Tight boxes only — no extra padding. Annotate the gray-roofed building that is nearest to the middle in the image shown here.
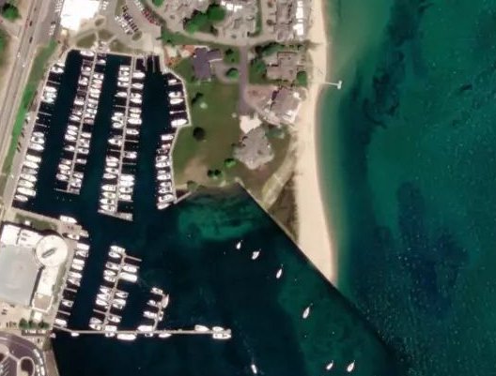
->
[234,125,273,168]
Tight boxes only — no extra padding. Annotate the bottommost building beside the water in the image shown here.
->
[0,223,67,310]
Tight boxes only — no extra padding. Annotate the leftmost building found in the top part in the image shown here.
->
[60,0,99,31]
